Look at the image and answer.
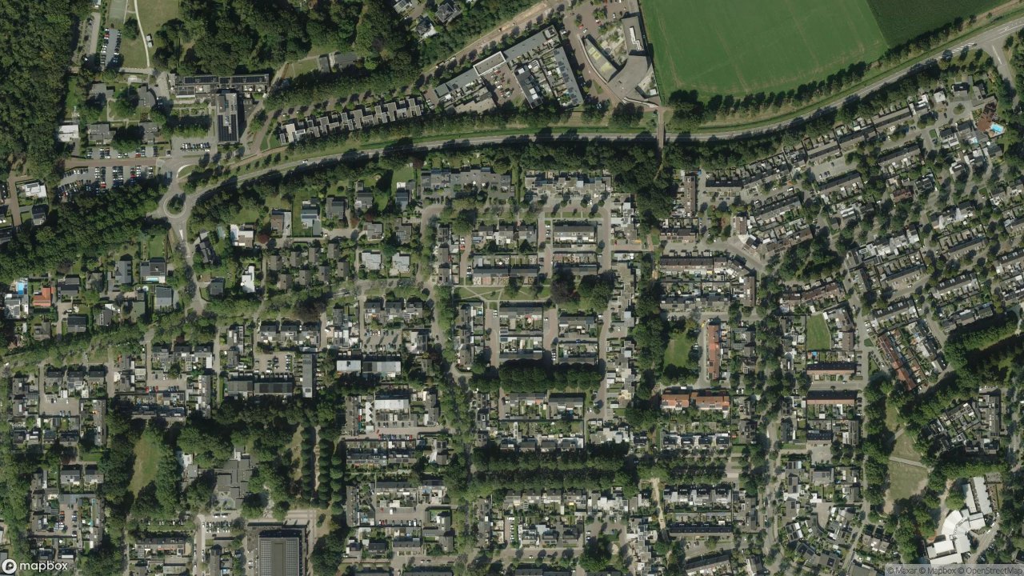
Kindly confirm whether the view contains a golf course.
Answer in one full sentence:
No, I can't see a single golf course in this photo.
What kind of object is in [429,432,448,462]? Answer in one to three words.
house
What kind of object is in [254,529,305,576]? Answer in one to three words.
building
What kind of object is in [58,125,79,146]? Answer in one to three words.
house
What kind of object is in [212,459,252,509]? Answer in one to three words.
building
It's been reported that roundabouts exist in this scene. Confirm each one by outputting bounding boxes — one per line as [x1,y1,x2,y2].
[160,189,193,222]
